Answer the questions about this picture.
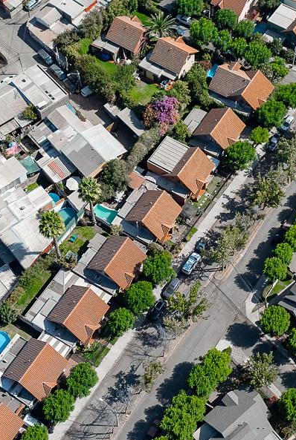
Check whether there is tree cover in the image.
Yes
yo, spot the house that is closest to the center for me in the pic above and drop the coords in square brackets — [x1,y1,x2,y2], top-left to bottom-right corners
[113,181,201,257]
